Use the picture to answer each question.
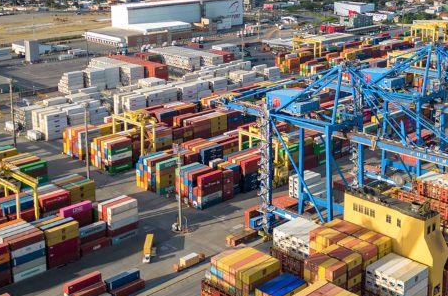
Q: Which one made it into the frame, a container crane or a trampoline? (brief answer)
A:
container crane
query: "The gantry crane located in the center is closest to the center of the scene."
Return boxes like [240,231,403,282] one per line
[226,123,284,169]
